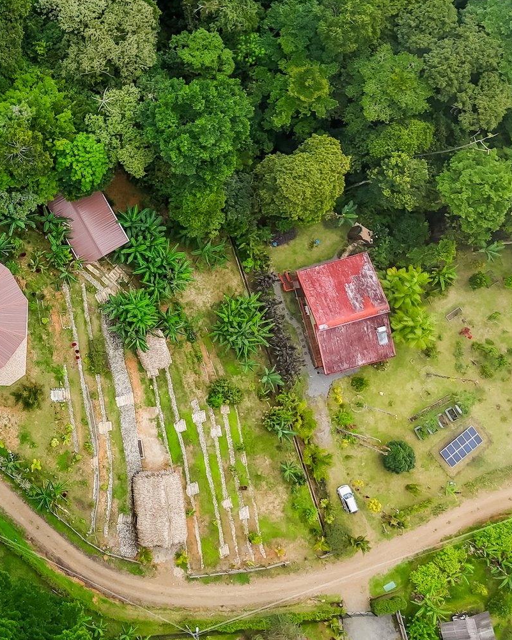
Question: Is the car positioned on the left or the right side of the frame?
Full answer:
The car sits on the right side.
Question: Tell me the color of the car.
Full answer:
The car is white.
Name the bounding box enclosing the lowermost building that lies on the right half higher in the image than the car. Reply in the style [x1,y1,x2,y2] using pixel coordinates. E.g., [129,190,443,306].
[293,252,398,375]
